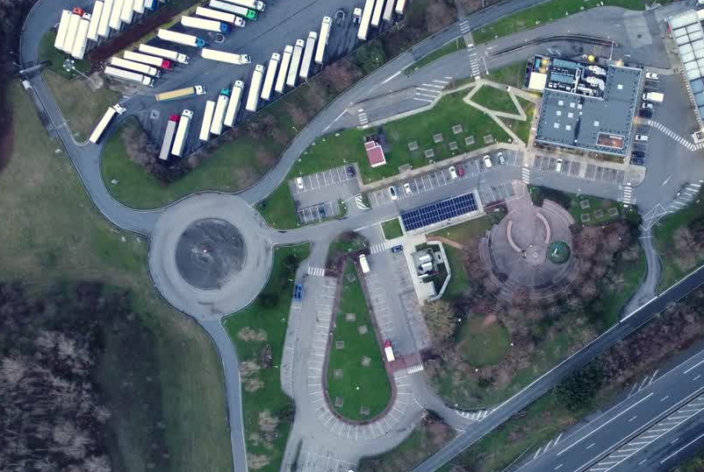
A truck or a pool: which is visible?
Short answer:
truck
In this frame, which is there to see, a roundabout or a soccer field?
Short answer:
roundabout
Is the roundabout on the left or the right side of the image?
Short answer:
left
